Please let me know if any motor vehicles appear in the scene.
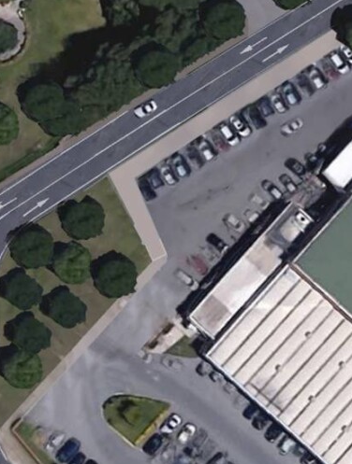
Yes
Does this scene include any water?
No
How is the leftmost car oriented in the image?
diagonally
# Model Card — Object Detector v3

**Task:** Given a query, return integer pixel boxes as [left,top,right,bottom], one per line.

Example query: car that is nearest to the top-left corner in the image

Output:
[133,98,158,118]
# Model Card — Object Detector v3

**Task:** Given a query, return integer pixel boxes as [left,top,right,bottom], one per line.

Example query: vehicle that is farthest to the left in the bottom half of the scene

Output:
[44,429,65,452]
